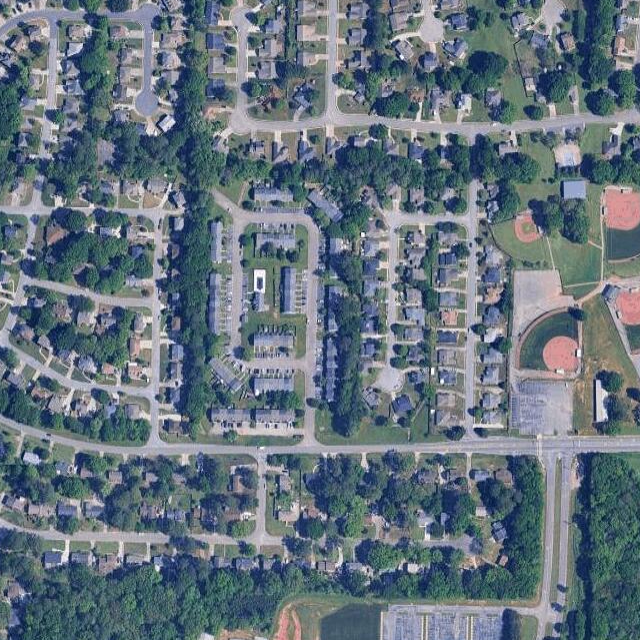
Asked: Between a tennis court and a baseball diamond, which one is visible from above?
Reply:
baseball diamond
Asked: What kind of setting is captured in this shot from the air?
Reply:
residential area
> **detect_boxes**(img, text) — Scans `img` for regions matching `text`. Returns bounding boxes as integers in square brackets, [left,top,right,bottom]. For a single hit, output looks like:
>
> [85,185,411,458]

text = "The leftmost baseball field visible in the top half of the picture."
[491,212,542,264]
